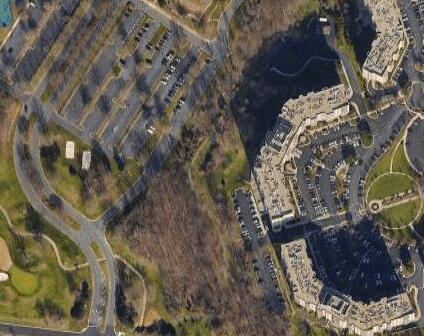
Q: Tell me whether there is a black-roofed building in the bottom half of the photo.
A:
No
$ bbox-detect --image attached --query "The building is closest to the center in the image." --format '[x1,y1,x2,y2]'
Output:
[253,83,354,229]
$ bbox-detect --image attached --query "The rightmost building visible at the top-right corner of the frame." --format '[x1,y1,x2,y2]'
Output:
[360,0,406,86]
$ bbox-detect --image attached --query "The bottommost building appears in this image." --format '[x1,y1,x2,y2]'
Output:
[279,238,415,336]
